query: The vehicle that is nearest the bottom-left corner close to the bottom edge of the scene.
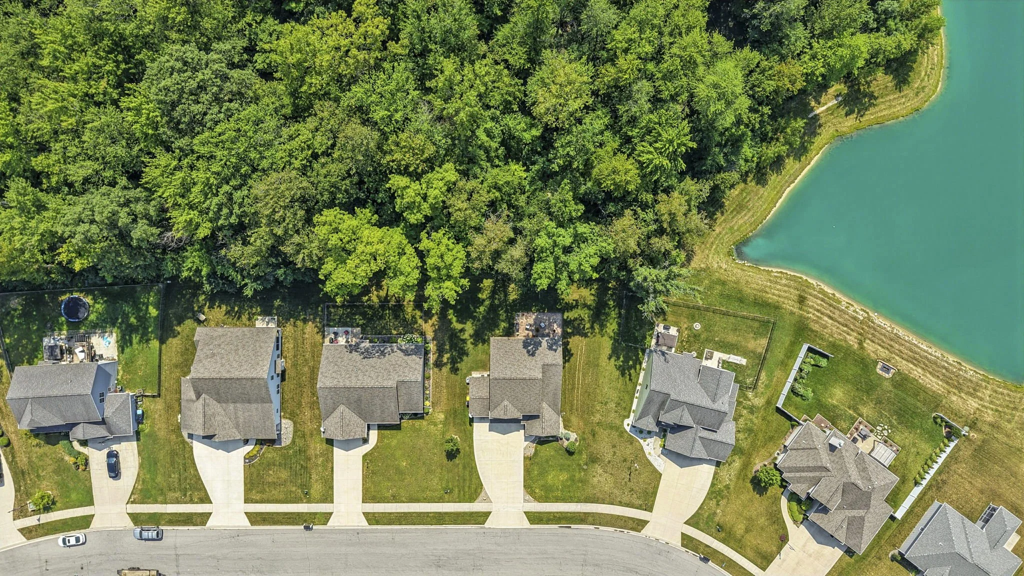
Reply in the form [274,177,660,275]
[59,532,89,548]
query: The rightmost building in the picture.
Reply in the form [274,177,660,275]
[899,501,1023,576]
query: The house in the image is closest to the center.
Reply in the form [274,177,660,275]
[469,337,562,437]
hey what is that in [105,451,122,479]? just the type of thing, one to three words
car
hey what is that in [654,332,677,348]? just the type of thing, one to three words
gazebo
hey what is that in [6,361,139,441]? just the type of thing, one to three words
house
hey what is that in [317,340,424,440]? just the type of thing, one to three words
house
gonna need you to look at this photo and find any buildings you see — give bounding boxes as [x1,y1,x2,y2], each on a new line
[632,350,740,462]
[6,361,139,441]
[317,340,424,440]
[774,420,900,556]
[469,337,562,437]
[899,501,1023,576]
[181,327,287,442]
